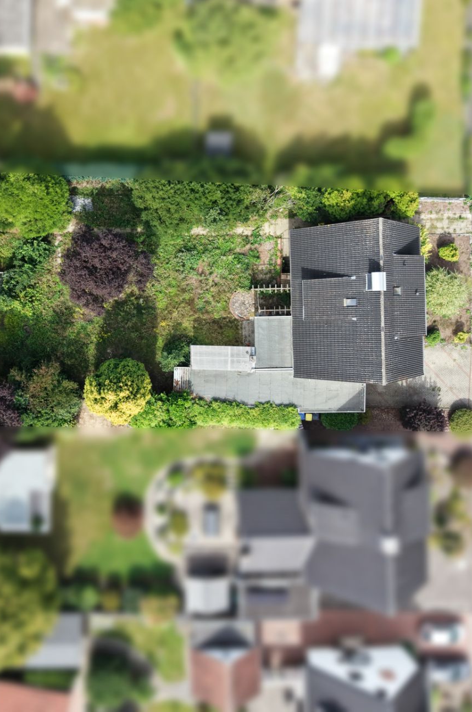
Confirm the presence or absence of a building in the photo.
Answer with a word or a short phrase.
Yes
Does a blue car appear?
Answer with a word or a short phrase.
No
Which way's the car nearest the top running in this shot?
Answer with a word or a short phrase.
from left to right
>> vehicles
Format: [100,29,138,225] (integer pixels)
[413,617,467,643]
[418,654,472,682]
